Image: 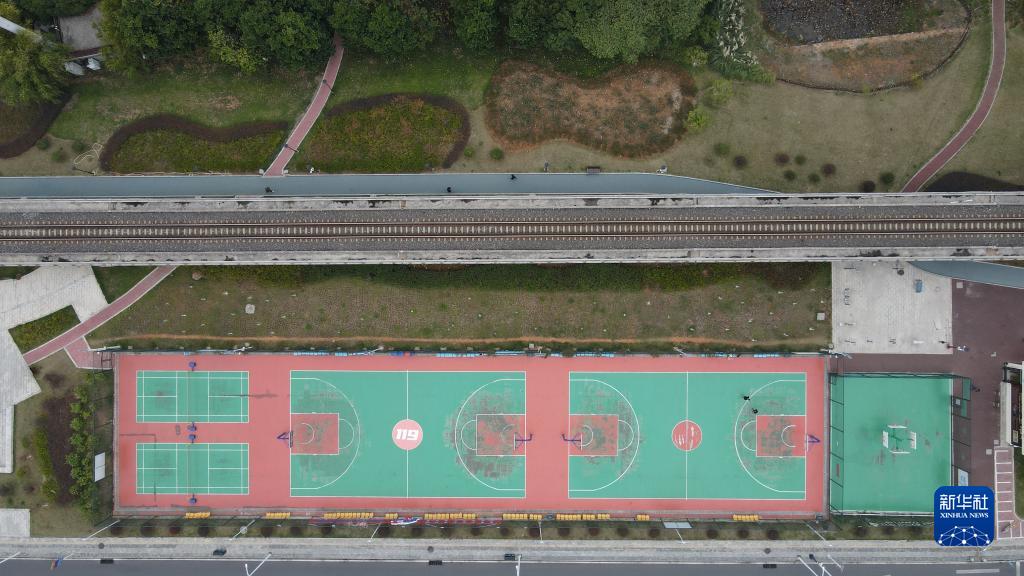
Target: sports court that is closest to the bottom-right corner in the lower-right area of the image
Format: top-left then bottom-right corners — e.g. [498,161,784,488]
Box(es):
[832,372,953,516]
